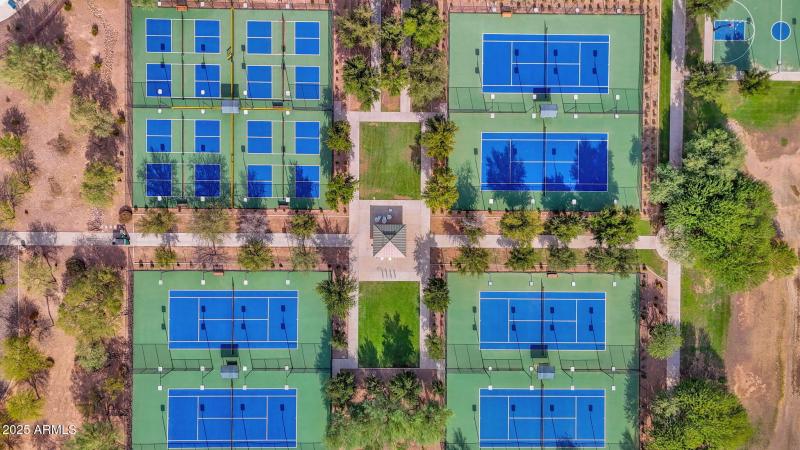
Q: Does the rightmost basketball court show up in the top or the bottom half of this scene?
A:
top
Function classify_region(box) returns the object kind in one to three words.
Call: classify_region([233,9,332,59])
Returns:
sports court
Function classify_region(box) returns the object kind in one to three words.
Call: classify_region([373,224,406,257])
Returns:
building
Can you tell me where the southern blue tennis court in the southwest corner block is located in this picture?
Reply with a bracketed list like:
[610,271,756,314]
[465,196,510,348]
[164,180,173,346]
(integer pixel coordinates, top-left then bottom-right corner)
[133,369,330,450]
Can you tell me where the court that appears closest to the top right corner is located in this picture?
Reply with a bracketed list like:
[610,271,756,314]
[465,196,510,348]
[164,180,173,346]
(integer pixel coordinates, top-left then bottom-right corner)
[713,0,800,72]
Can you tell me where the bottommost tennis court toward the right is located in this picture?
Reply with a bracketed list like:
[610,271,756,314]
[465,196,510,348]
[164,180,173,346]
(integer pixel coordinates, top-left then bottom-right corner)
[446,369,638,450]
